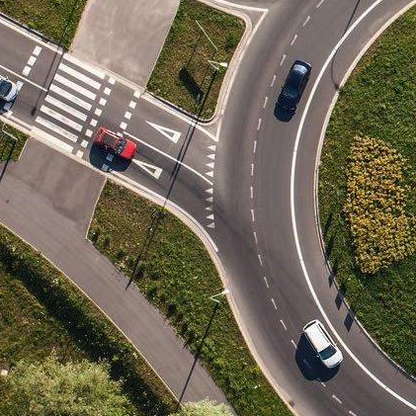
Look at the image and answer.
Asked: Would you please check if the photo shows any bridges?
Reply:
No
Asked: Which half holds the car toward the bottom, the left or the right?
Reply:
right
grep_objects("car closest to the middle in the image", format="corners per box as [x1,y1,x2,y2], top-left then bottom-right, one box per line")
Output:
[93,127,136,158]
